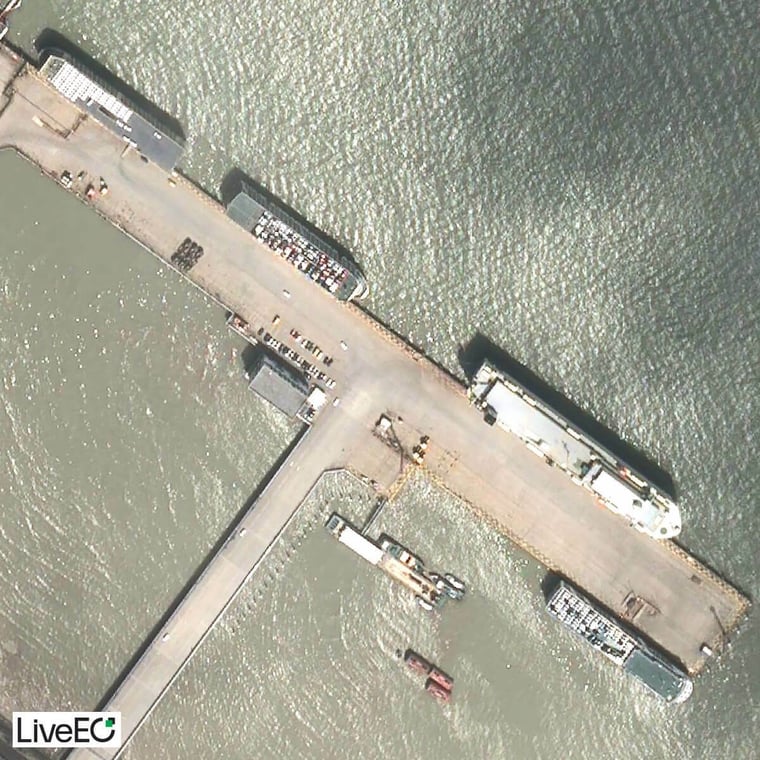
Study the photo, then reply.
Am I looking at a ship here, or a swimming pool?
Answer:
ship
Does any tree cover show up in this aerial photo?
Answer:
No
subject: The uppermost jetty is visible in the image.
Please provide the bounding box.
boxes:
[0,42,24,110]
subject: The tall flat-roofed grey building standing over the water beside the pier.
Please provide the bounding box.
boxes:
[248,354,309,418]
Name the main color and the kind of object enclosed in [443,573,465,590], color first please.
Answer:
white boat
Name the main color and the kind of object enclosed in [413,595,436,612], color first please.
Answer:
white boat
